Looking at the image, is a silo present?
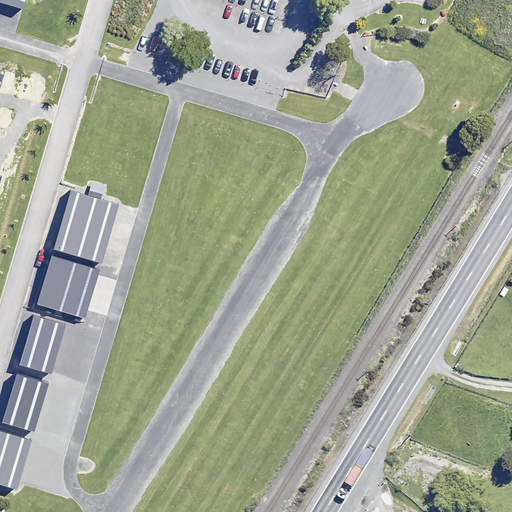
No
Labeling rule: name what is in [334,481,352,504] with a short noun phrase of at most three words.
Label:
vehicle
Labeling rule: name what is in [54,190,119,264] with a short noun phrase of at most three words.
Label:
shed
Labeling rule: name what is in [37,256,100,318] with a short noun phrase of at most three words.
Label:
shed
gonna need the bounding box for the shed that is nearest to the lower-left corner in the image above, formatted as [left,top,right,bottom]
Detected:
[0,429,32,490]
